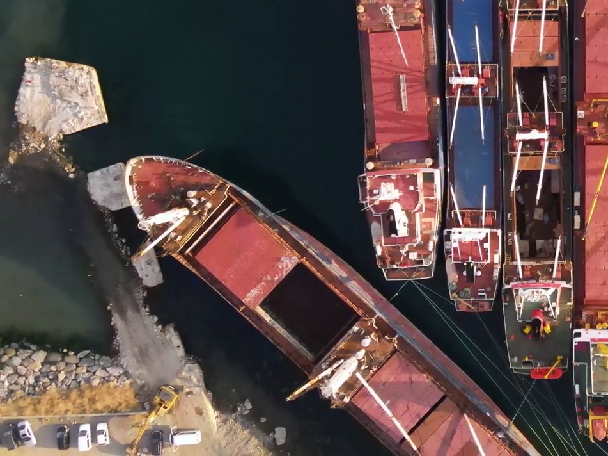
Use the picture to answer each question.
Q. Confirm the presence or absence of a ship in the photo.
Yes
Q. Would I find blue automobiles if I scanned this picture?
No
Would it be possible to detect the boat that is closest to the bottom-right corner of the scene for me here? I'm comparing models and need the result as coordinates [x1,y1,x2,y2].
[594,419,608,442]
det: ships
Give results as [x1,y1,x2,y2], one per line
[124,150,547,456]
[355,0,446,287]
[444,0,504,311]
[498,0,573,377]
[572,0,608,442]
